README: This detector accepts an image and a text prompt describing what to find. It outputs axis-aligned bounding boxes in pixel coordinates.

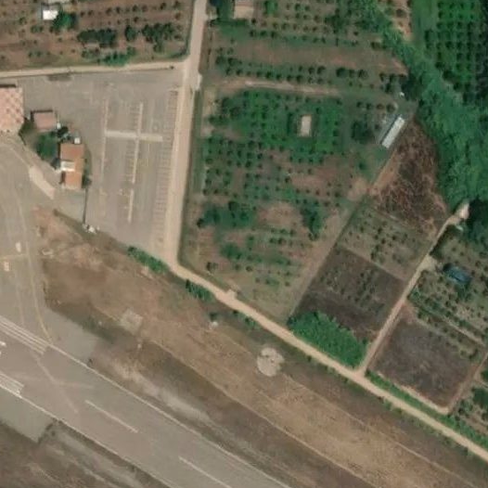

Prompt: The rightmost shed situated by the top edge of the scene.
[235,0,253,18]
